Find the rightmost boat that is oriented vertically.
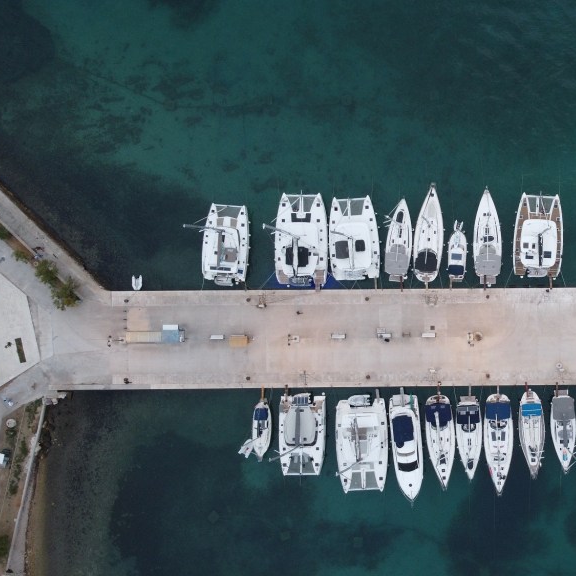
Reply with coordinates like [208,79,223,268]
[549,382,576,475]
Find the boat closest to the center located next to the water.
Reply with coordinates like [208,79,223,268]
[287,274,312,288]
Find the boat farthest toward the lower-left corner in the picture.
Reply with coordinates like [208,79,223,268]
[236,439,254,459]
